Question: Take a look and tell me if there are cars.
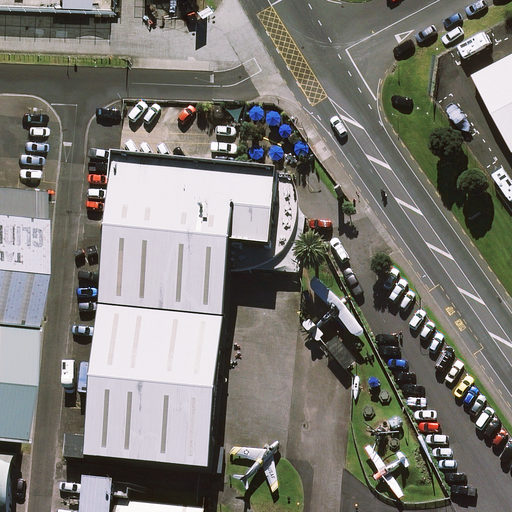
Yes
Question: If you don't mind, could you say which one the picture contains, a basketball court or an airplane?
airplane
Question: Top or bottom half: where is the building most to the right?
top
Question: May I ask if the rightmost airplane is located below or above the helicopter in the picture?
below it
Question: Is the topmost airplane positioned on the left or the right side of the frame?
right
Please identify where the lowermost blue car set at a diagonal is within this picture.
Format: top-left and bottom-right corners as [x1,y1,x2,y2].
[464,384,481,405]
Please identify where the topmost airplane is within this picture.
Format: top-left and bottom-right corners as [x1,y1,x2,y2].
[303,277,363,340]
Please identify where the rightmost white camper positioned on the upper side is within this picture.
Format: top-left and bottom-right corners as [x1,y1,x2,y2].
[491,171,512,208]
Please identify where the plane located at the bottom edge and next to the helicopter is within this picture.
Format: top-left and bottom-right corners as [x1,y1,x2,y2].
[365,445,409,498]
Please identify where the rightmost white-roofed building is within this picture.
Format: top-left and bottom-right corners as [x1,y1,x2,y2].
[471,54,512,150]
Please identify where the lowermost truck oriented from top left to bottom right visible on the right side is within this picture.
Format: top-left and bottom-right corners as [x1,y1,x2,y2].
[342,268,364,295]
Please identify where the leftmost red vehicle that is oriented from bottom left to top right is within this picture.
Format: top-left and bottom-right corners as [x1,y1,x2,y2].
[177,104,196,124]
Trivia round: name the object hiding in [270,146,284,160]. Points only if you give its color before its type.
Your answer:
blue umbrella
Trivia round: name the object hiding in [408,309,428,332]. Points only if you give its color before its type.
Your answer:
white car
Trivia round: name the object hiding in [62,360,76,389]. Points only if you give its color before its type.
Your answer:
white camper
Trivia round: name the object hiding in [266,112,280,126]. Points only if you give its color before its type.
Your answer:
blue umbrella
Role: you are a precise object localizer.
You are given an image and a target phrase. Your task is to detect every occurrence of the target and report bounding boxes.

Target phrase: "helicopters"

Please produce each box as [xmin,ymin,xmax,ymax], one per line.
[365,417,401,450]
